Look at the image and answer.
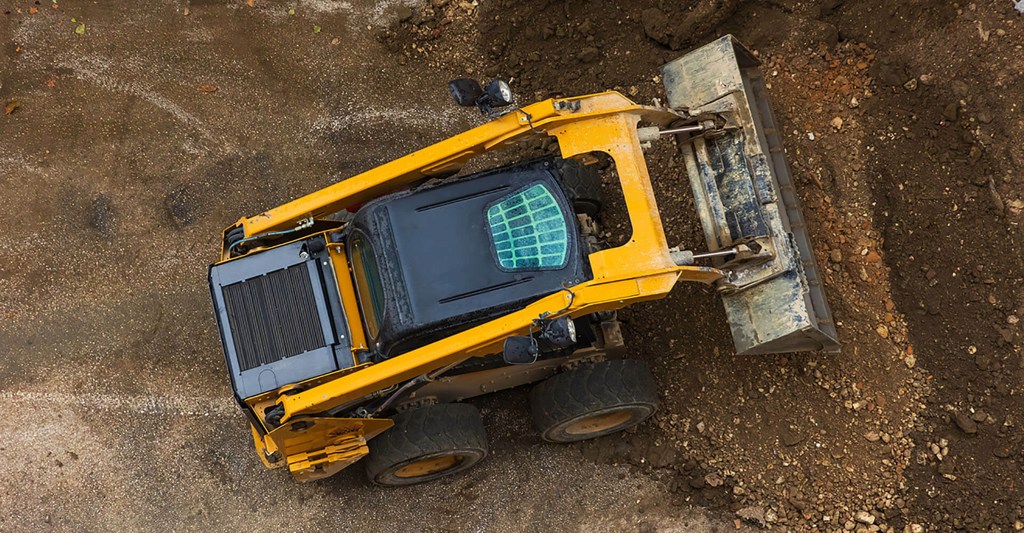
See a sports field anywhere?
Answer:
No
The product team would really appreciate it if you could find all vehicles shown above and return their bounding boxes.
[206,33,845,484]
